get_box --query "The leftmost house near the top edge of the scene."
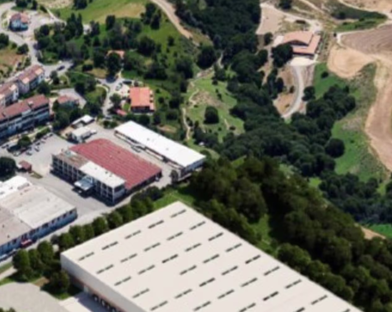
[5,13,32,32]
